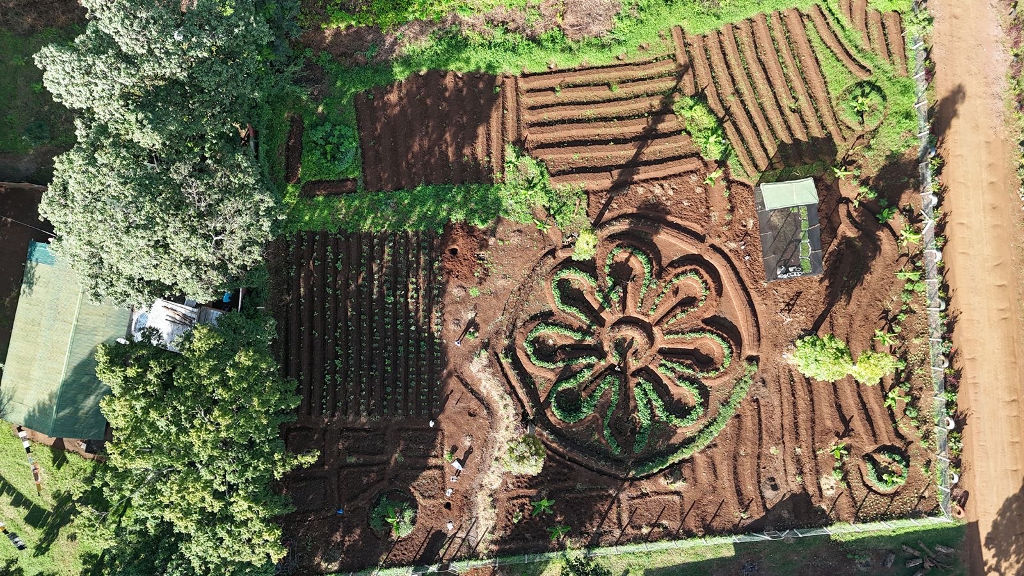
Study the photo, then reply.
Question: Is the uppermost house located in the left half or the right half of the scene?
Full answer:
The uppermost house is on the right side of the image.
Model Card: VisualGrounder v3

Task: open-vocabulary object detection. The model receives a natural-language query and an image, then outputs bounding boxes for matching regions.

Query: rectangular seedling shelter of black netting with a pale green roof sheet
[754,170,827,281]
